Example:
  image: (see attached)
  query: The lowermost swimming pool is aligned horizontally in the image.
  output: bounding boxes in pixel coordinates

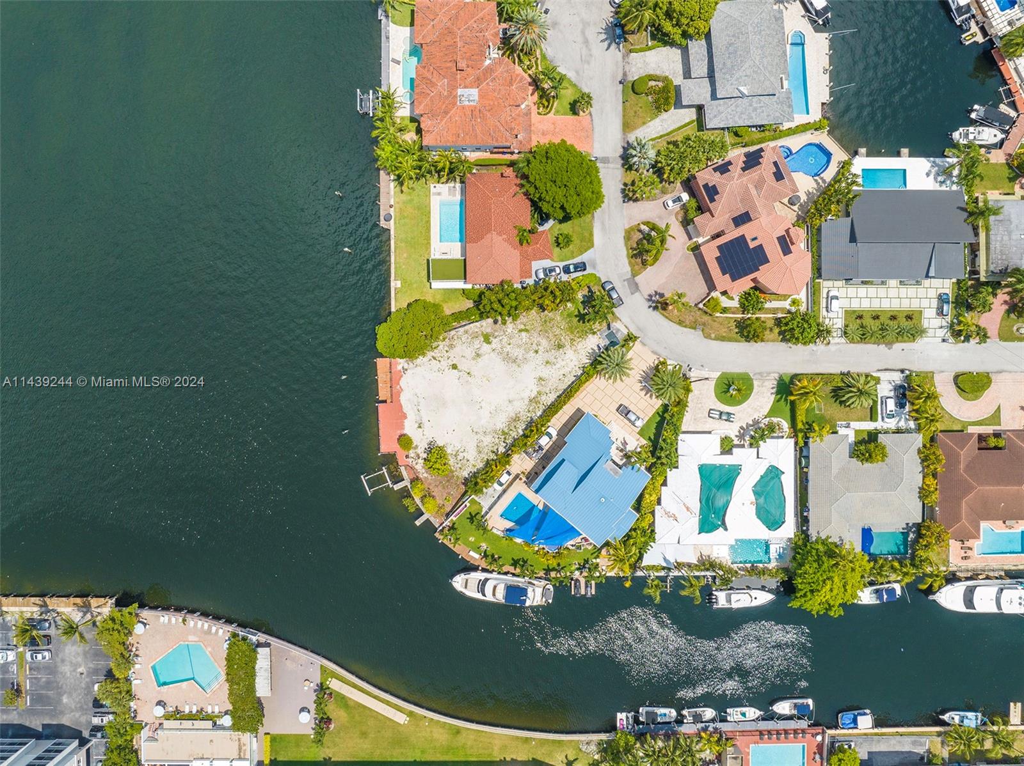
[748,742,808,766]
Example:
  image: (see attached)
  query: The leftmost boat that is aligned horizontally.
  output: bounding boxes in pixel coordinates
[447,571,555,608]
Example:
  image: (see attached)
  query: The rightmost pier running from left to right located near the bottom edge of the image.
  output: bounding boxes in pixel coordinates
[635,718,808,734]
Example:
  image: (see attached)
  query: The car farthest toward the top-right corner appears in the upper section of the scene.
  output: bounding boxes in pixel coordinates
[936,291,951,317]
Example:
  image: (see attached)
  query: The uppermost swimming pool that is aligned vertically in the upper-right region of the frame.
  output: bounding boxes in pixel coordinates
[787,28,810,116]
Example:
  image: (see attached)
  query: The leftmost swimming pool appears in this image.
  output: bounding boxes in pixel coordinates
[149,641,226,697]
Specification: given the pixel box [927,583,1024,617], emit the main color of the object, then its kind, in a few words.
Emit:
white boat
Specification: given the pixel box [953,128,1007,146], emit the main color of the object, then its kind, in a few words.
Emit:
white boat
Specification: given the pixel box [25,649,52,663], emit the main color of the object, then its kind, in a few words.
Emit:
white car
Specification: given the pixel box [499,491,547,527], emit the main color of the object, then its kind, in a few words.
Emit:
blue swimming pool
